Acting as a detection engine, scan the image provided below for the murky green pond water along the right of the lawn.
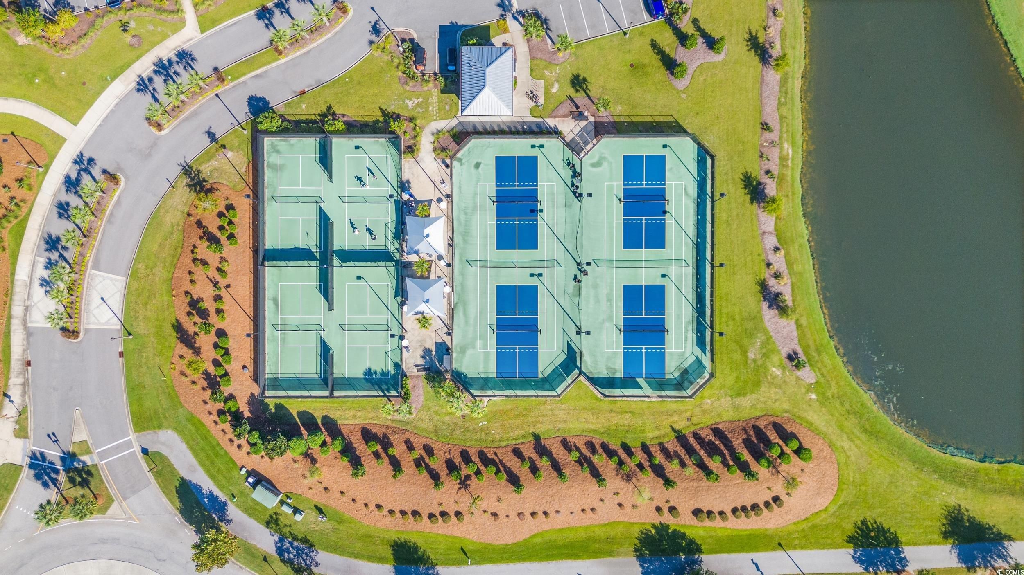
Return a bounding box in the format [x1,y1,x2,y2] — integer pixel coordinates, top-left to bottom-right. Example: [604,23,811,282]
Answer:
[799,0,1024,464]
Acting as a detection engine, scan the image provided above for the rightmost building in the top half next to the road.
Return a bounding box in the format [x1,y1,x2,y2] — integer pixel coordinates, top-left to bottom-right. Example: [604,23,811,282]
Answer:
[460,45,514,118]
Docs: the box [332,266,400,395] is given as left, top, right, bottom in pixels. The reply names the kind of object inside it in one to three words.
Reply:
sports court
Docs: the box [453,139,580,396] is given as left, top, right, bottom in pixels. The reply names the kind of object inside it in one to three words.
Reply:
tennis court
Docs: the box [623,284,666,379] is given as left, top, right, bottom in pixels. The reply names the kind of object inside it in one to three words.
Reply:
sports court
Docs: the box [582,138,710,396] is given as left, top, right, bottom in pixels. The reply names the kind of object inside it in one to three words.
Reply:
tennis court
